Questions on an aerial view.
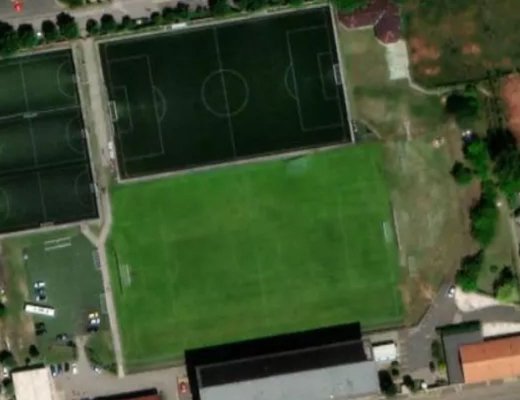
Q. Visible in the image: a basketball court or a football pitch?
football pitch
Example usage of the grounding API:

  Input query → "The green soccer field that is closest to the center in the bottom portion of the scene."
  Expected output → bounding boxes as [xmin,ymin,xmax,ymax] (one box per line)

[104,141,405,373]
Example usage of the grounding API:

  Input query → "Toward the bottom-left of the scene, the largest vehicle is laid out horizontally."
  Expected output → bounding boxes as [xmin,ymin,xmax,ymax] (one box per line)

[24,305,55,317]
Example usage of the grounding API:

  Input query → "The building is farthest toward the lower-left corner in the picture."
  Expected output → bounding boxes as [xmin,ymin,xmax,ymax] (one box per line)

[13,366,56,400]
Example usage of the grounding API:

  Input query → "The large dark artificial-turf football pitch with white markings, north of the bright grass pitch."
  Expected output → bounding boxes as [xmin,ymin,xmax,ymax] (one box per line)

[100,8,350,180]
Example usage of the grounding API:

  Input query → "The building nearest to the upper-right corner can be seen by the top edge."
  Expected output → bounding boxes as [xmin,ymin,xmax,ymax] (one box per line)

[339,0,403,44]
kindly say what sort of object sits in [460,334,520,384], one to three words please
building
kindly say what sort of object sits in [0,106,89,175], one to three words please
soccer field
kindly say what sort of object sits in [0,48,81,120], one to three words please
soccer field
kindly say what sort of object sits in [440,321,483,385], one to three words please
building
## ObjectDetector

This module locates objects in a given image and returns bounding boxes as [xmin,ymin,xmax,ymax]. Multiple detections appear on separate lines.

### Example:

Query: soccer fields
[0,158,97,234]
[0,48,81,120]
[100,8,350,180]
[104,141,405,373]
[0,106,89,175]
